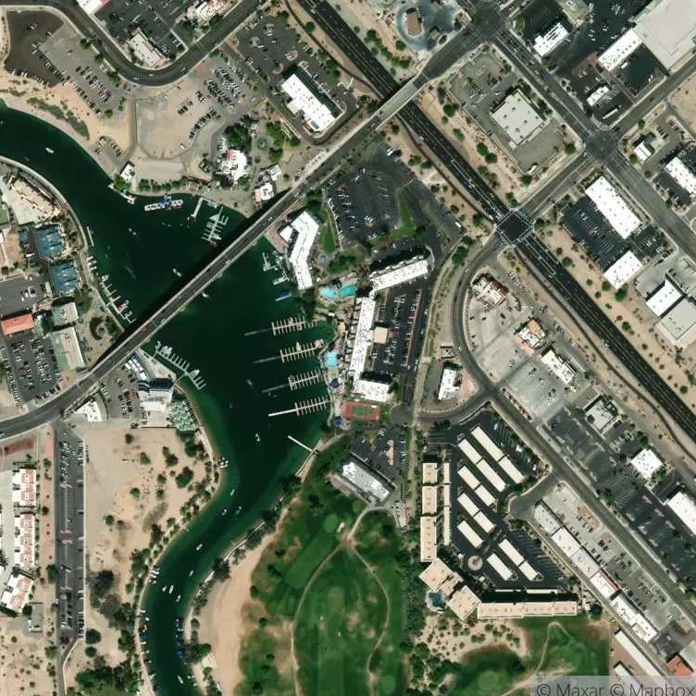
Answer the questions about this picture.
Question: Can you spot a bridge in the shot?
Yes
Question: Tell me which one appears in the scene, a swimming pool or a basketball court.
swimming pool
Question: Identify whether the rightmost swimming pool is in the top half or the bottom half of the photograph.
bottom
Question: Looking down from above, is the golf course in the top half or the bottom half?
bottom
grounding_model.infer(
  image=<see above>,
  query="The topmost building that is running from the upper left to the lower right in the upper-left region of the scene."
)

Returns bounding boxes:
[129,31,164,67]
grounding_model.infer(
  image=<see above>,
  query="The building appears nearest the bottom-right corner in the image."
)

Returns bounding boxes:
[667,656,694,682]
